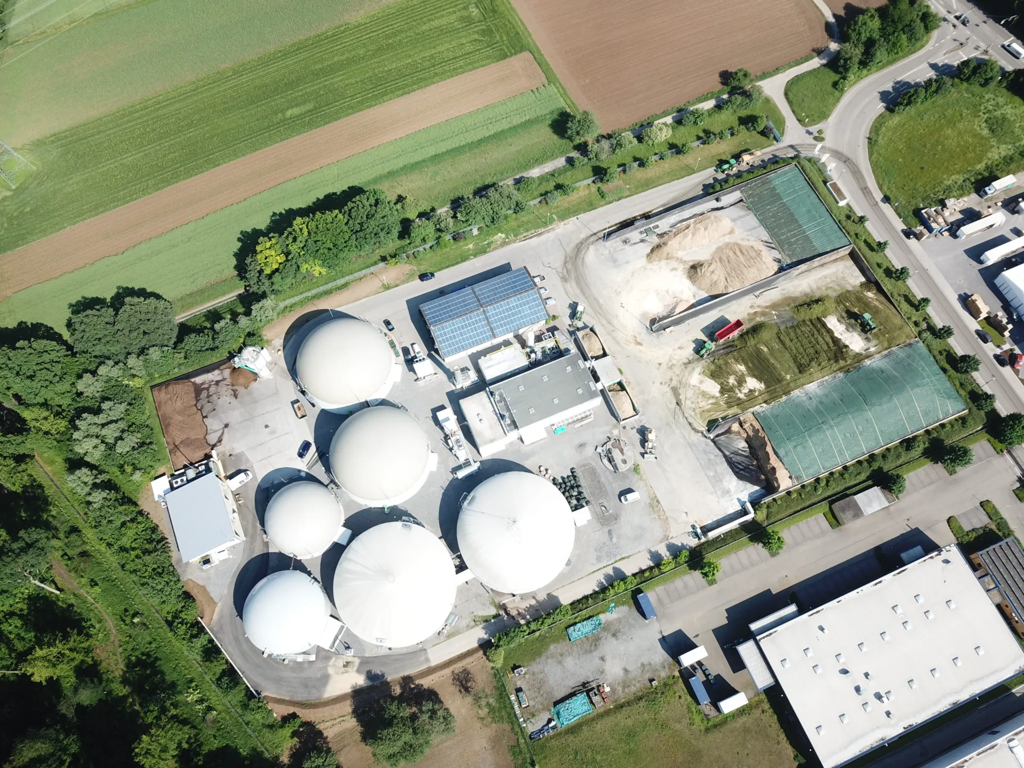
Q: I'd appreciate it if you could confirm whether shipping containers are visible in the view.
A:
Yes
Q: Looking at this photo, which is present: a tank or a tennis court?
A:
tank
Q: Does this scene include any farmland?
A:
Yes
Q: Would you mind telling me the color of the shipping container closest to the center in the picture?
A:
white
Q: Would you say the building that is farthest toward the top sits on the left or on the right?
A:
right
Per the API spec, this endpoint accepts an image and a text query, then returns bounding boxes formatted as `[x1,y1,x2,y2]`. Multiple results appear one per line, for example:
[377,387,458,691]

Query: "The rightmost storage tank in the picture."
[596,436,633,471]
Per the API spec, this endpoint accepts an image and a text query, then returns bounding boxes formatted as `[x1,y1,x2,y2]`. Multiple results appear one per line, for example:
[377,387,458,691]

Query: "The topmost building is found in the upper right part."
[824,180,849,207]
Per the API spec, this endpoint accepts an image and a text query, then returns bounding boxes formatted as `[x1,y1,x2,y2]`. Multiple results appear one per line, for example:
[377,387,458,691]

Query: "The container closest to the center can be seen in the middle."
[436,408,475,466]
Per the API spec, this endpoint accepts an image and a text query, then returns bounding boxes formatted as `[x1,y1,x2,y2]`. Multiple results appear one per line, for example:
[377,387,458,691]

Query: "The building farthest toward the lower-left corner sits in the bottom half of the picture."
[165,472,245,565]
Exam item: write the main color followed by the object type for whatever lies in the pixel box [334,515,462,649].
white storage tank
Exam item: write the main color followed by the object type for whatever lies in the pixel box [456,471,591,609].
white storage tank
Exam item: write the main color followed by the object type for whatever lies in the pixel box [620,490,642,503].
white vehicle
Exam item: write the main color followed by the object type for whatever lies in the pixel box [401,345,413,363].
black vehicle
